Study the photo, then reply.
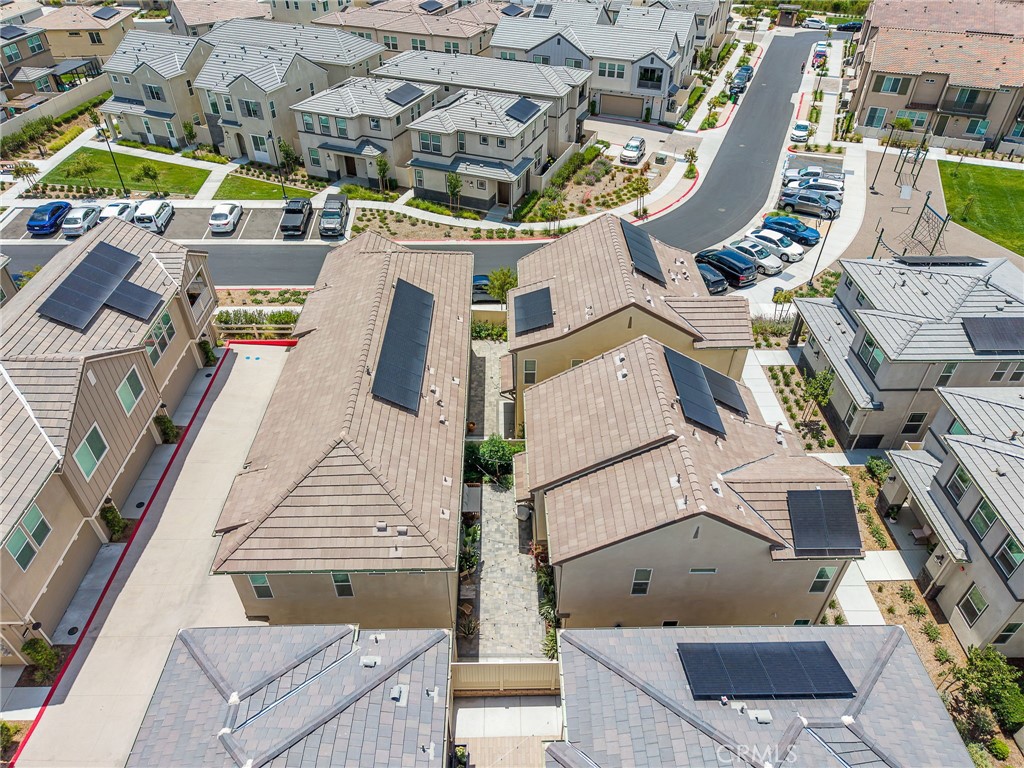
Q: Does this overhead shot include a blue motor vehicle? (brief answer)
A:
Yes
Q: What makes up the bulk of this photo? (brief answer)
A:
buildings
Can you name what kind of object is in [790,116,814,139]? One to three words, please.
car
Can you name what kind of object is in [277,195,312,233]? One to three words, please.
truck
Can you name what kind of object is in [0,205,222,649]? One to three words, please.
house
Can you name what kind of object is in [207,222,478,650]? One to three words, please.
house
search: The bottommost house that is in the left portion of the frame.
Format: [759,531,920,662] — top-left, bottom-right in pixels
[117,621,452,768]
